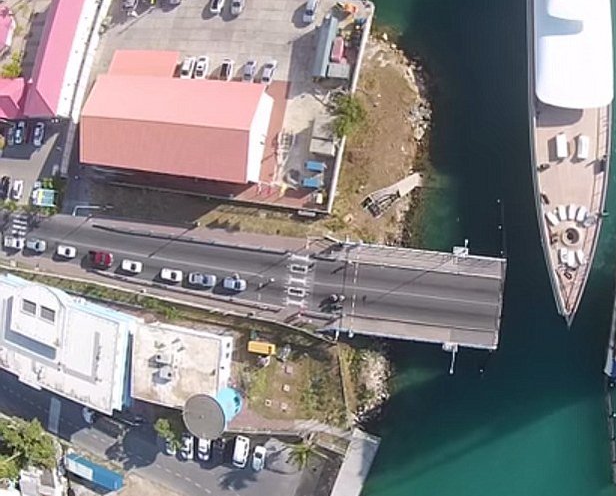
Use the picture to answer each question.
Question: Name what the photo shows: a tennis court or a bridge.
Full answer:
Of the two, only a bridge appears.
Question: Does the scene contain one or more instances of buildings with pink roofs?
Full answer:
Yes, the frame does contain a building with a pink roof.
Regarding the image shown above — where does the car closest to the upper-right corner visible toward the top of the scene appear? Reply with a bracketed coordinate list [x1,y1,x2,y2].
[303,0,319,25]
